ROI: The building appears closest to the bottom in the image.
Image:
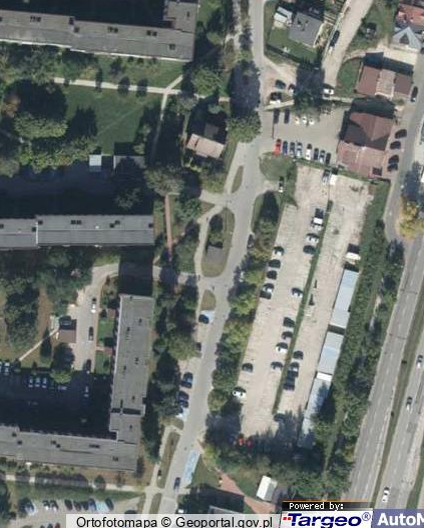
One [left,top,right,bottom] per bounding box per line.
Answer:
[206,506,246,528]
